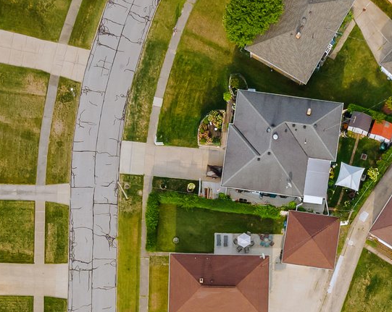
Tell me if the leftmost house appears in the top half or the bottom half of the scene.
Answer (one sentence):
Seen from above, the leftmost house lies in the bottom half of the view.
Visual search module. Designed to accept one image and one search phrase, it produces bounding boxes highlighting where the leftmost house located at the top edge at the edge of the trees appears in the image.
[246,0,358,87]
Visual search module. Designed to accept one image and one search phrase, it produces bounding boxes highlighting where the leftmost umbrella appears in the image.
[237,233,251,247]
